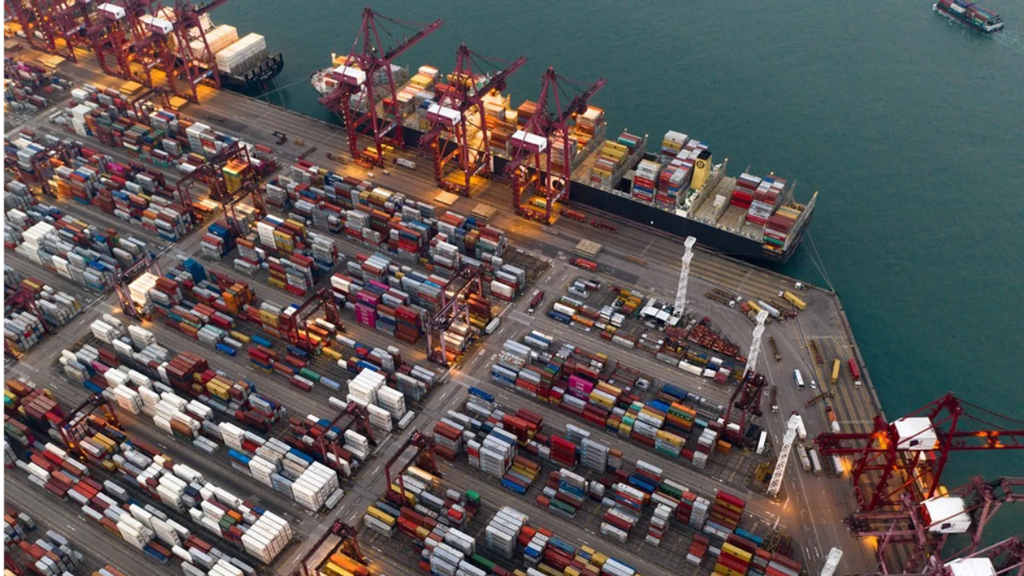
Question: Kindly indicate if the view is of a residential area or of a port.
port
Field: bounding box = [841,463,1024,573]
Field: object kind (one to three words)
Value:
container crane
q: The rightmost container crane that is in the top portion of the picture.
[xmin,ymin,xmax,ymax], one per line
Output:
[492,60,605,225]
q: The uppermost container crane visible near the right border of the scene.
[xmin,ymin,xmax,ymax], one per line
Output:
[814,382,1024,516]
